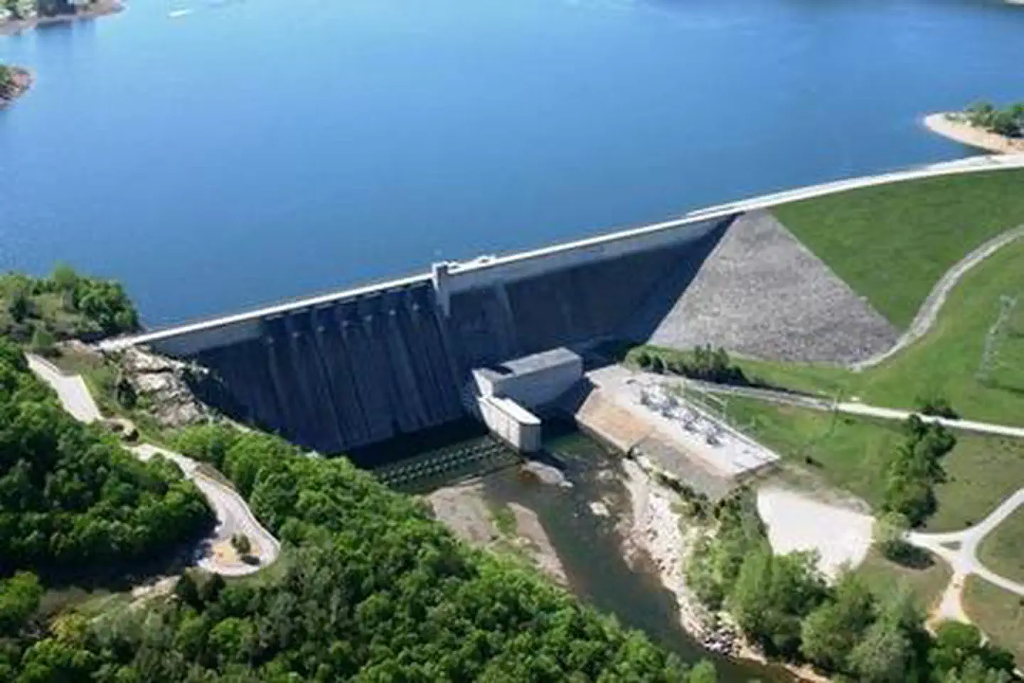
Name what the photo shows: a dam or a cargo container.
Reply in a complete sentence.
This aerial view contains a dam.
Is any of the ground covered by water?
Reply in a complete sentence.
Yes, some water is visible.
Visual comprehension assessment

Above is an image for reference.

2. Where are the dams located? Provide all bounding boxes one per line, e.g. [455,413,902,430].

[90,201,771,460]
